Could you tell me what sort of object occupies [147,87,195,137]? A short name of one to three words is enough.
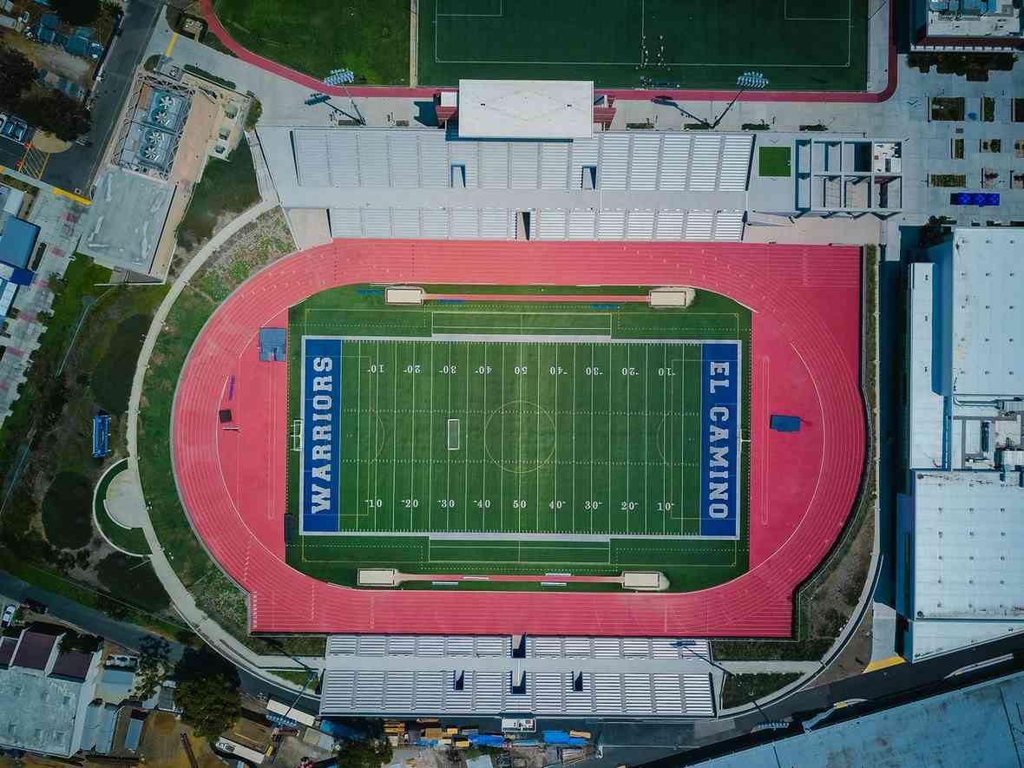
cooling tower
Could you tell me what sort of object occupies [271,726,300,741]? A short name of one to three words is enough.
vehicle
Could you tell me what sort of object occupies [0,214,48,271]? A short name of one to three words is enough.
building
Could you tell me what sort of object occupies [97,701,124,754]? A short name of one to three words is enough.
shed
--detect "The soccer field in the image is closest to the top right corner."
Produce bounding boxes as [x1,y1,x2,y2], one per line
[418,0,867,91]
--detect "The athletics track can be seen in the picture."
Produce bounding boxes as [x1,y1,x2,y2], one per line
[168,238,869,639]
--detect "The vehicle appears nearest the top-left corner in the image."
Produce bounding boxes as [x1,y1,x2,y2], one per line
[17,6,32,25]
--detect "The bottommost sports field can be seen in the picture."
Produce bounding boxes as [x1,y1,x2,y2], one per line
[288,284,753,592]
